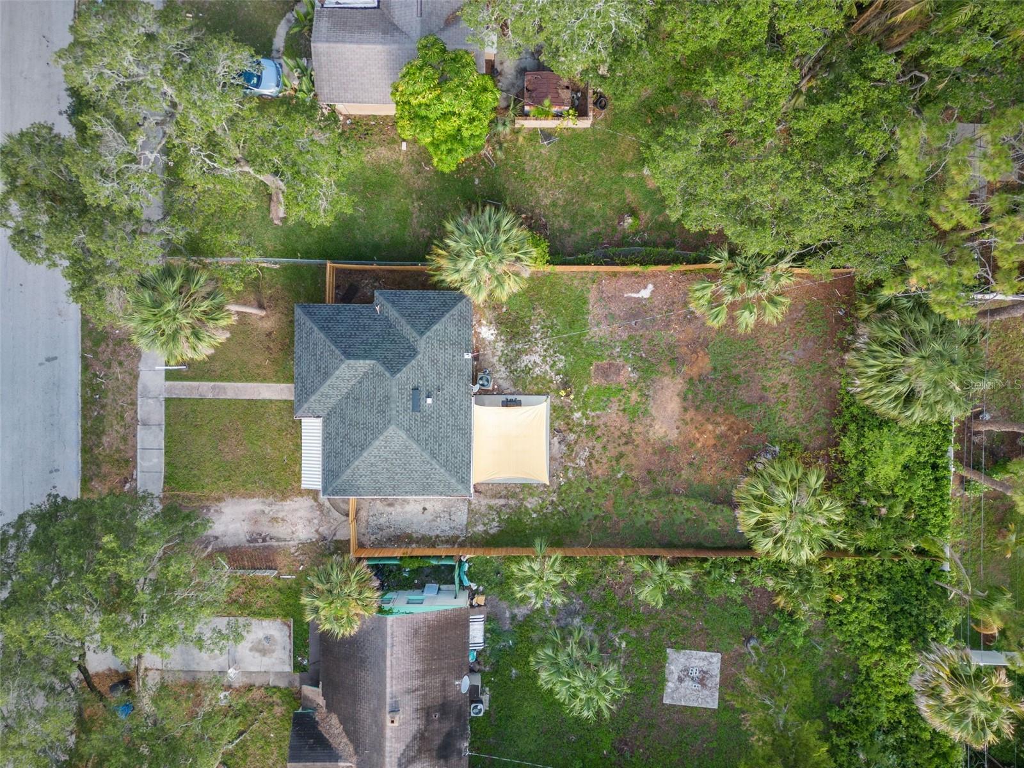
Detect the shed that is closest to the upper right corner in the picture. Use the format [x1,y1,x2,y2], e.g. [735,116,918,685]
[524,71,572,117]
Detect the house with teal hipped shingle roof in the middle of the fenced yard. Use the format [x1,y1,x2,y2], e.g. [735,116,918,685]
[293,289,476,502]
